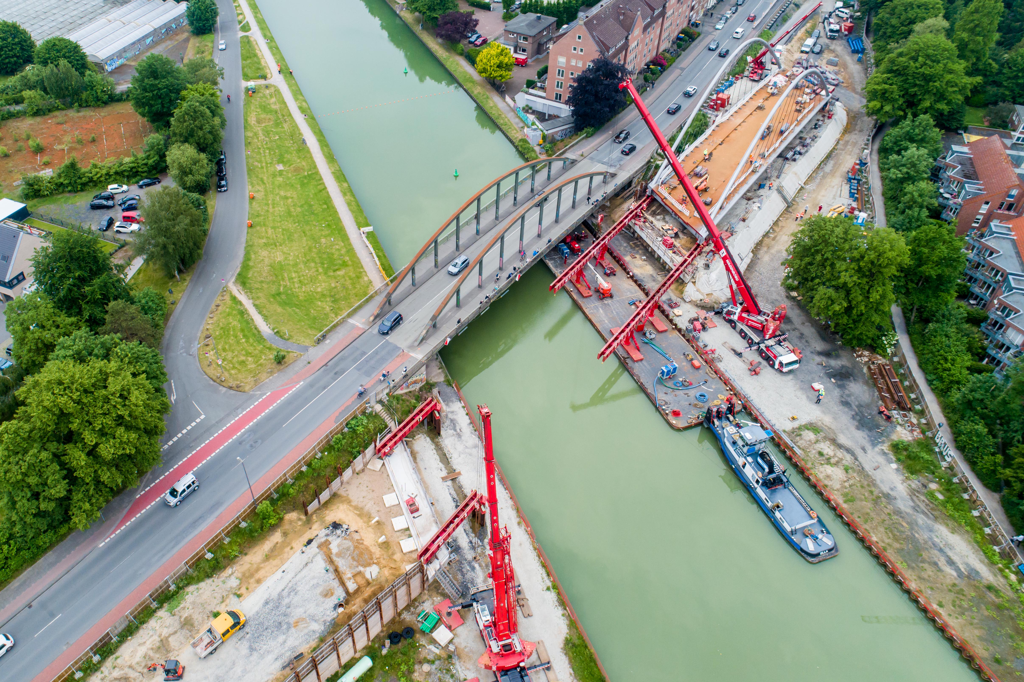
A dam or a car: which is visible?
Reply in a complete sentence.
The image shows a car.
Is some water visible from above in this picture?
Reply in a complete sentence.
Yes, the picture does contain water.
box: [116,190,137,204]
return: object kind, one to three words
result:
car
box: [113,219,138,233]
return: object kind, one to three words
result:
car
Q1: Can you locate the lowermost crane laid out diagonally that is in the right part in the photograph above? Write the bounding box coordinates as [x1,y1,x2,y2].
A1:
[598,76,803,374]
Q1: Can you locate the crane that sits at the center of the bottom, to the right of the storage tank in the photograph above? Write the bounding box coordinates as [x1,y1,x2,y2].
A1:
[458,399,539,682]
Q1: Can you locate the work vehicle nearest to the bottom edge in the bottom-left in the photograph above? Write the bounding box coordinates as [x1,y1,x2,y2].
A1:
[150,658,192,682]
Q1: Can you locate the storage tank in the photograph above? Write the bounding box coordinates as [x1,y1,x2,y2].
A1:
[334,653,373,682]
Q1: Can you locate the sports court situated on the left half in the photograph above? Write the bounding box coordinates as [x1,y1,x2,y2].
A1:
[0,103,152,180]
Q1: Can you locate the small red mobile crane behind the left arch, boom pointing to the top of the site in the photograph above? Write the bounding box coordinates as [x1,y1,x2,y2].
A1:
[745,0,824,78]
